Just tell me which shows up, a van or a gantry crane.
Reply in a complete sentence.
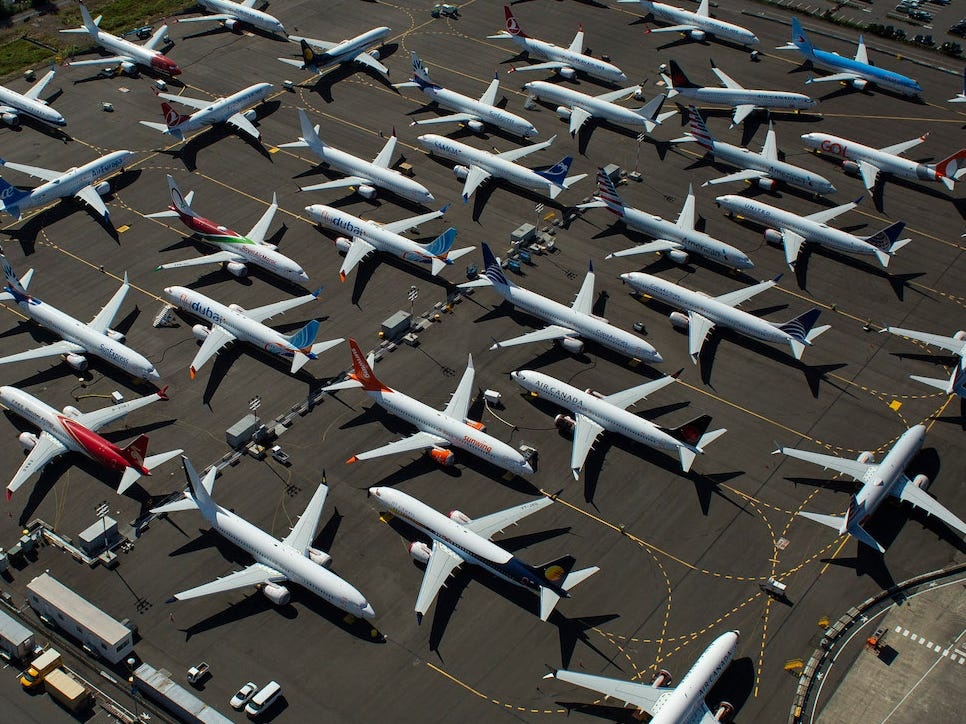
Looking from above, you can make out a van.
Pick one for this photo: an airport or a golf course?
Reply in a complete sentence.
It's an airport.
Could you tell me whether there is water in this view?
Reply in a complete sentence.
No, there is no water in the image.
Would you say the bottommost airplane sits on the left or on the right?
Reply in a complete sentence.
The bottommost airplane sits on the right side.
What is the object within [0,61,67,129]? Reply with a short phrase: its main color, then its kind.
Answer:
white airplane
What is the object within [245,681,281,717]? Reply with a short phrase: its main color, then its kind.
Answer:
white van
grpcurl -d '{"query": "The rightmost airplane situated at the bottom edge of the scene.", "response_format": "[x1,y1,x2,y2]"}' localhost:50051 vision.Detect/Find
[542,631,742,724]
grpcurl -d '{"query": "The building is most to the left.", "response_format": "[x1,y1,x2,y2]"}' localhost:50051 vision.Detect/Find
[0,604,36,658]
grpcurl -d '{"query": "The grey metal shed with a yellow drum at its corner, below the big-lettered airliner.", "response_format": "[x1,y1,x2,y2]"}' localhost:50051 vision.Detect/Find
[381,310,411,339]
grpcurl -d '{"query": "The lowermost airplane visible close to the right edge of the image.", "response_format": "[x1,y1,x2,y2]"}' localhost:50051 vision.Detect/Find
[771,424,966,554]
